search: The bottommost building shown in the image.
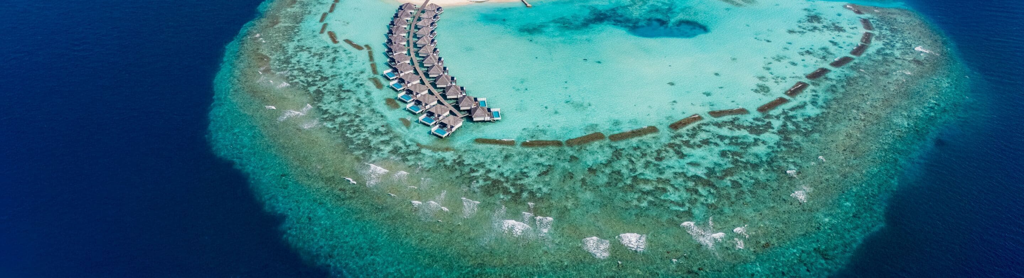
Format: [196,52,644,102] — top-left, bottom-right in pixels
[432,115,464,140]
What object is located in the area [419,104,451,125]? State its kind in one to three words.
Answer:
house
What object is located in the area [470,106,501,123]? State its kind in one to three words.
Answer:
house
